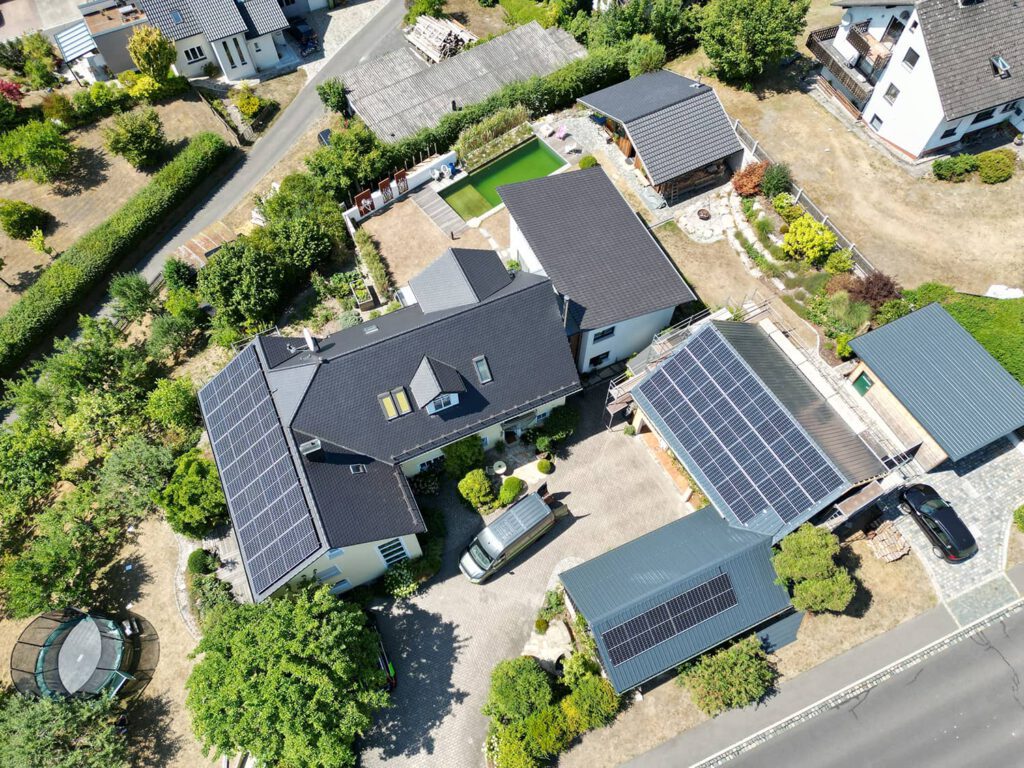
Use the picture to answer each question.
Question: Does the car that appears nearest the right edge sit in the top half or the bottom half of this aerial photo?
bottom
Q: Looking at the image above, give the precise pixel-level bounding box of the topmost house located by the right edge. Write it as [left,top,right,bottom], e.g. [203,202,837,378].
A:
[810,0,1024,160]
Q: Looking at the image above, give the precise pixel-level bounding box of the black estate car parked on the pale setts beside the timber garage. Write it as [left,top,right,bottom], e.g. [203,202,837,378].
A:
[902,482,981,563]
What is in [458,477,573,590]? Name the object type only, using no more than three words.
van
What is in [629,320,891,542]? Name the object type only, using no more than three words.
barn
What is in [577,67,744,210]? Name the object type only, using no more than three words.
barn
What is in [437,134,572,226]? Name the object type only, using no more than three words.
swimming pool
